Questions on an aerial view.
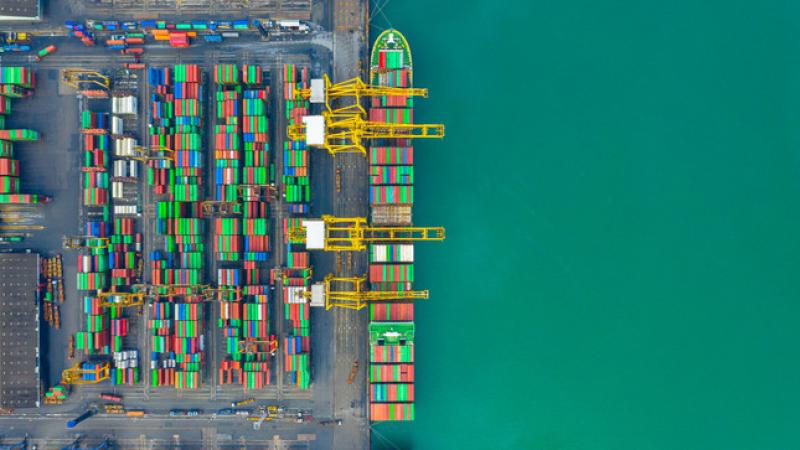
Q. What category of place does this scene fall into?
port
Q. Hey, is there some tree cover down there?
No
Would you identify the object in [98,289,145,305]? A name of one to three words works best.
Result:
container crane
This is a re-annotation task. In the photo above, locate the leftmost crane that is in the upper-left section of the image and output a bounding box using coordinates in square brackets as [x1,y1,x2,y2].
[62,71,111,90]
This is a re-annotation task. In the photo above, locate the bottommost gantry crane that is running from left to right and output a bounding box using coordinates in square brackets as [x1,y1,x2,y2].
[62,363,111,384]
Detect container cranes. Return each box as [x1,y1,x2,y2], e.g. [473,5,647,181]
[270,265,313,281]
[202,284,245,301]
[202,200,245,215]
[288,212,444,255]
[173,281,216,298]
[294,76,428,120]
[62,234,111,249]
[98,289,145,305]
[238,334,279,353]
[237,185,279,200]
[288,110,444,160]
[294,271,428,309]
[62,363,111,384]
[62,71,111,90]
